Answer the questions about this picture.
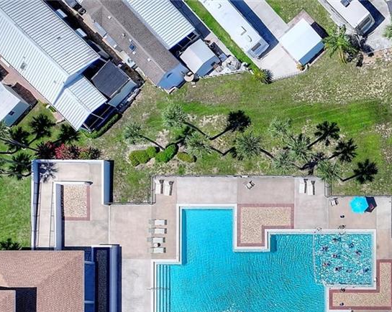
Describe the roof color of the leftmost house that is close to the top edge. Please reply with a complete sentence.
The roof over the leftmost house that is close to the top edge appears white.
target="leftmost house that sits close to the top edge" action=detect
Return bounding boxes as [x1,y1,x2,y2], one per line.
[0,0,107,104]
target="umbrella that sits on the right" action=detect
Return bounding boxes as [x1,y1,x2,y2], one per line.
[349,195,368,214]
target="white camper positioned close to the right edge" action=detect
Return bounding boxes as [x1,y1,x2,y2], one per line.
[329,0,376,39]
